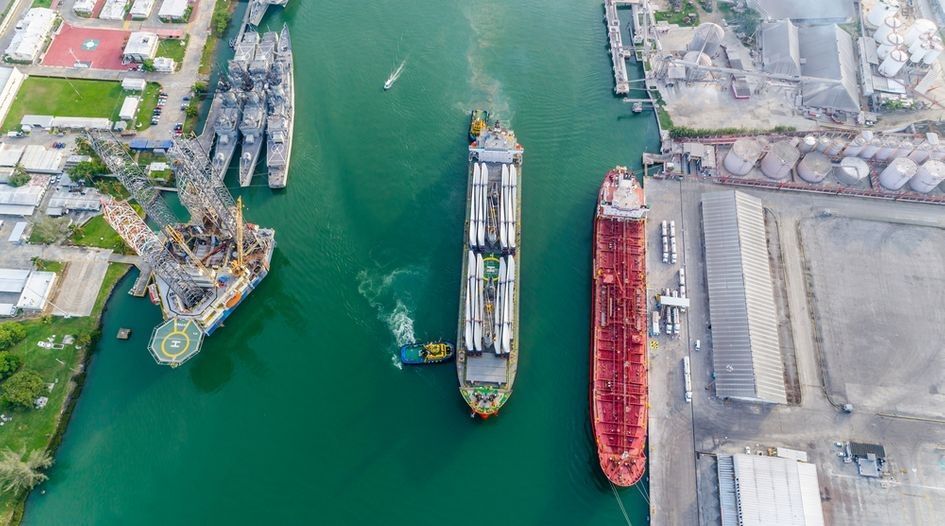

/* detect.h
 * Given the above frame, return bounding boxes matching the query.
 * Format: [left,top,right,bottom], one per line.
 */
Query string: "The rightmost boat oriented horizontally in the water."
[400,341,455,365]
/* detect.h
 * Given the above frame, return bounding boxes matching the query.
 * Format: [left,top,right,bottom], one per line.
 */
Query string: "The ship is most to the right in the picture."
[589,166,653,486]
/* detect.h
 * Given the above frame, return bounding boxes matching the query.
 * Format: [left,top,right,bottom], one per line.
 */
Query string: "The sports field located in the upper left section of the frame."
[7,74,121,126]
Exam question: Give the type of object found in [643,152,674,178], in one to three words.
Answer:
pier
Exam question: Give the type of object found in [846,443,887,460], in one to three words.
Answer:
building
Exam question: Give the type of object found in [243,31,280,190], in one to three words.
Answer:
ship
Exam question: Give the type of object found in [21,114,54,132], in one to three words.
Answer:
shed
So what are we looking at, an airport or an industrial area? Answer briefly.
industrial area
